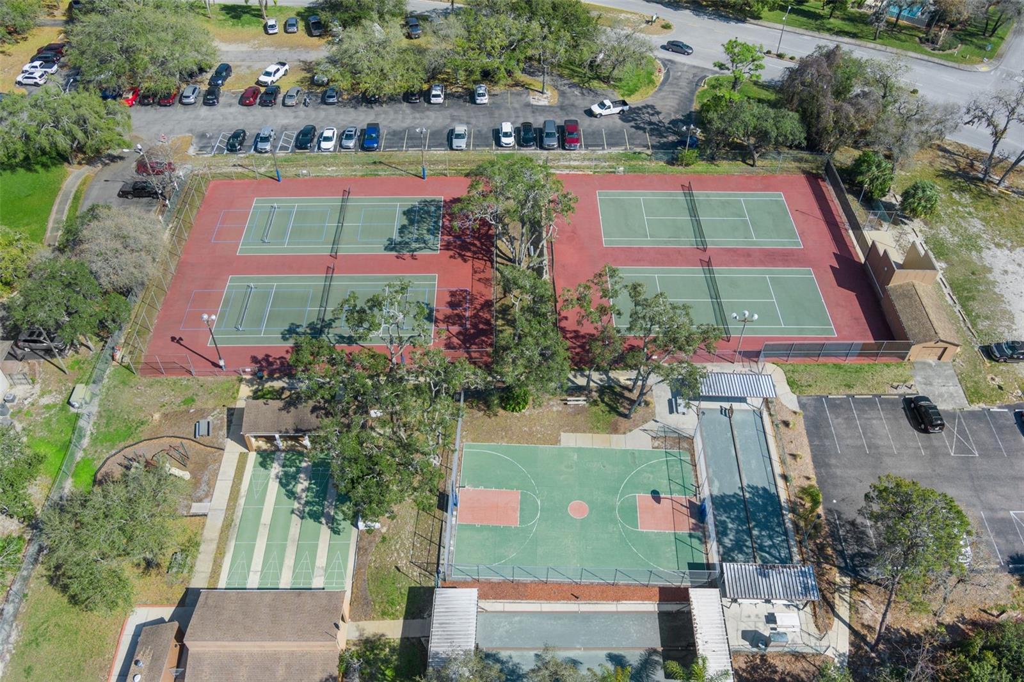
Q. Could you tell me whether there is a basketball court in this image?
Yes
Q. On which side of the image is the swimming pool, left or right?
right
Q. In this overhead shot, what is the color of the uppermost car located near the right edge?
black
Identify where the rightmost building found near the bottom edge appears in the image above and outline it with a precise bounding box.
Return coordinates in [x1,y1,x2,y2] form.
[179,589,348,682]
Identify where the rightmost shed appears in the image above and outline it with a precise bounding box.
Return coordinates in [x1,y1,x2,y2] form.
[880,278,955,356]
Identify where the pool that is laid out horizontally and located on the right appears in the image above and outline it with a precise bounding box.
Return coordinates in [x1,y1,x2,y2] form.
[859,0,934,25]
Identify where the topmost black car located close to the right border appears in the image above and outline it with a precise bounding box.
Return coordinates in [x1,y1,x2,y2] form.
[993,339,1024,362]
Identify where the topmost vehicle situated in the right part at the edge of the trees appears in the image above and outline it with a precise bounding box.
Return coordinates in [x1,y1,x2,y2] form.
[664,38,696,55]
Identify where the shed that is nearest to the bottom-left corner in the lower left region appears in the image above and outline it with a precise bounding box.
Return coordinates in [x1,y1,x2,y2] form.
[127,622,185,682]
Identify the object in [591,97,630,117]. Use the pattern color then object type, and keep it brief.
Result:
white vehicle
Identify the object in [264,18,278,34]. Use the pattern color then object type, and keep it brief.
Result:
white car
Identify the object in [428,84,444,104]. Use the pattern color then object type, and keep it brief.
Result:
white car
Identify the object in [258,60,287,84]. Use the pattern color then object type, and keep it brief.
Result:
white truck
